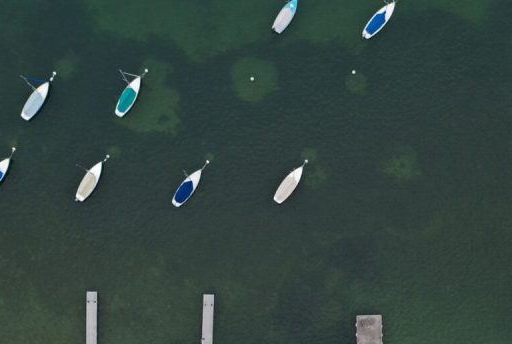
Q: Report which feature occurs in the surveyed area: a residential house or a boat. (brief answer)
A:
boat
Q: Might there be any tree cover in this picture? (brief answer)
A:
No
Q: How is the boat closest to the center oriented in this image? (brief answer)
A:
diagonally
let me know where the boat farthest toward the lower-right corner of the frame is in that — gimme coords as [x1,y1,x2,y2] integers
[274,162,306,205]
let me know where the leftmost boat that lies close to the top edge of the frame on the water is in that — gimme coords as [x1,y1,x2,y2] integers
[274,0,298,35]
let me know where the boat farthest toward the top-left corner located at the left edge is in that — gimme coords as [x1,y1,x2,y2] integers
[21,74,54,122]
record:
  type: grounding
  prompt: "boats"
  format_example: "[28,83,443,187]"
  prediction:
[274,162,306,205]
[76,159,106,203]
[361,0,395,41]
[0,151,13,183]
[172,163,207,208]
[274,0,298,35]
[116,71,145,118]
[21,74,54,122]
